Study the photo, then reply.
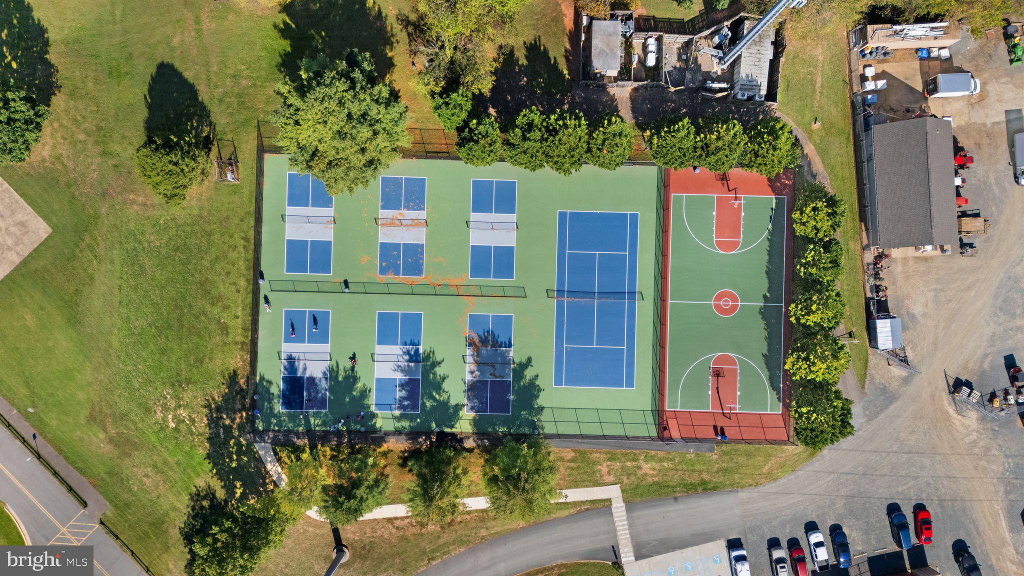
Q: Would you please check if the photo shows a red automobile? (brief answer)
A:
Yes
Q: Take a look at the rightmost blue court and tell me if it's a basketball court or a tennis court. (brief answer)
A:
tennis court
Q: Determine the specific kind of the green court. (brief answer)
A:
basketball court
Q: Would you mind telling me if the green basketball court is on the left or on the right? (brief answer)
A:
right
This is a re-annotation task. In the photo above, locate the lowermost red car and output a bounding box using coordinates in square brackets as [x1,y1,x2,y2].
[789,544,809,576]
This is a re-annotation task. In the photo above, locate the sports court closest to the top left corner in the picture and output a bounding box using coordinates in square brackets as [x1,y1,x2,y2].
[285,173,334,274]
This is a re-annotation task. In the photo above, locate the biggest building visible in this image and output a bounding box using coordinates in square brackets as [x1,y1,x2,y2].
[864,118,960,248]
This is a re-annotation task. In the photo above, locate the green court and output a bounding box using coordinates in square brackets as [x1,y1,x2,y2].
[659,169,794,440]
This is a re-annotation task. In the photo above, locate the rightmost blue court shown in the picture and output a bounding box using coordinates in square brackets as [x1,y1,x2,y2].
[554,211,639,388]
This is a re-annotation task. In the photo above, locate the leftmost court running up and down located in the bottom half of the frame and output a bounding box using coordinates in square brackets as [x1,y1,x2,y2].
[281,309,330,411]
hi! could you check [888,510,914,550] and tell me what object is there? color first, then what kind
blue car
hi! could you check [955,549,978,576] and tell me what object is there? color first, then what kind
black car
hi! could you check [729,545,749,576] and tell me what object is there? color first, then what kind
white car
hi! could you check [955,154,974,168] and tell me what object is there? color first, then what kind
red work vehicle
